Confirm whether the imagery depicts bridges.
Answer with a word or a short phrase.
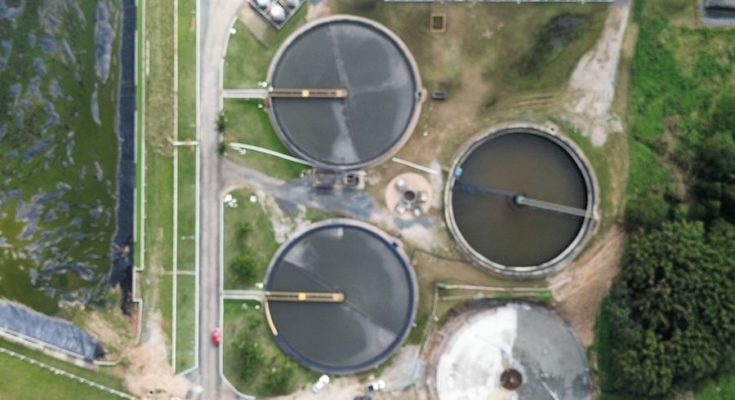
Yes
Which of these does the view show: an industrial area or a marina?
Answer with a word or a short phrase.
industrial area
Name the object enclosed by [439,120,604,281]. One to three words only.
storage tank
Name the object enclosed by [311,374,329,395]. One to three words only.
vehicle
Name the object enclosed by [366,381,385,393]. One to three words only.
vehicle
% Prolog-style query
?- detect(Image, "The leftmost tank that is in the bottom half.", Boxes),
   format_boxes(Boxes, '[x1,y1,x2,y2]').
[258,218,421,376]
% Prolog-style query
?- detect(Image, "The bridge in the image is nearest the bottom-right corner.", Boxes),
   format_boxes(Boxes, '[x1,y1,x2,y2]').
[452,187,604,220]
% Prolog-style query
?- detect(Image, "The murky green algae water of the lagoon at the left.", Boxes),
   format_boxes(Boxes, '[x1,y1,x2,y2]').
[0,0,122,319]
